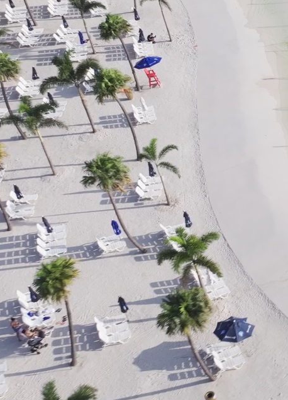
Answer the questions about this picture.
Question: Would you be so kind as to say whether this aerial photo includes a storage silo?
No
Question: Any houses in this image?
No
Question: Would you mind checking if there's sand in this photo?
Yes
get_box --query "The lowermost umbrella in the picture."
[212,312,255,348]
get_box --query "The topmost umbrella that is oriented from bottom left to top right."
[136,53,161,71]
